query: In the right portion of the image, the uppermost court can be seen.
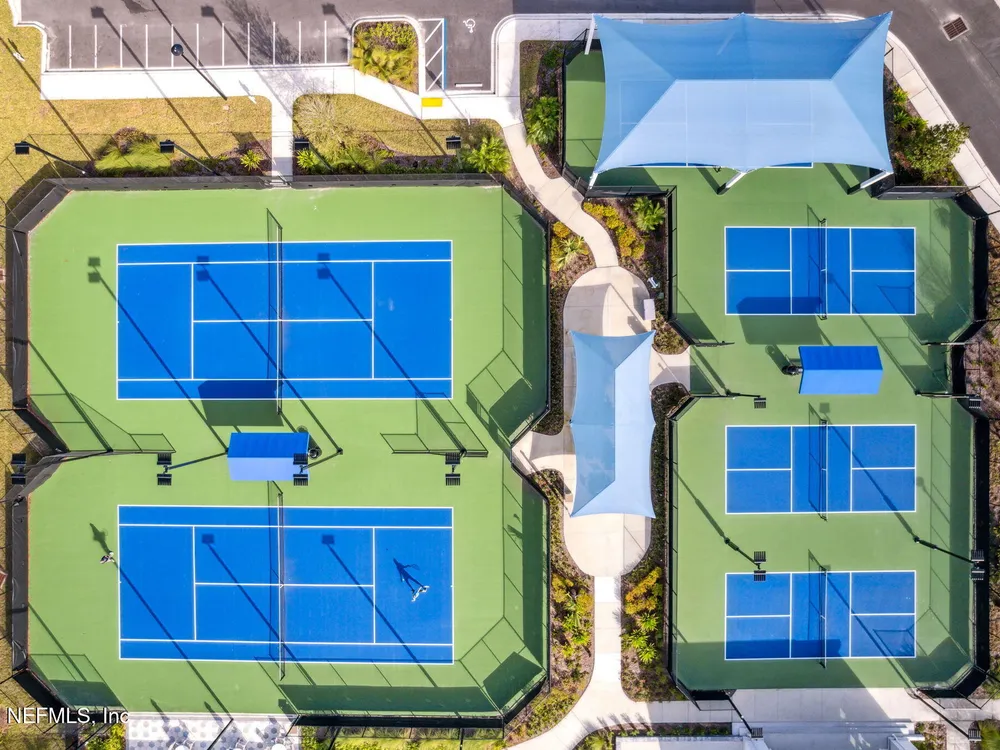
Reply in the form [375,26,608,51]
[562,48,869,197]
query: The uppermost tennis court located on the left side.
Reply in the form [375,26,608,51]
[27,187,549,450]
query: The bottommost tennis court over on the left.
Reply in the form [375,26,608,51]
[26,450,548,714]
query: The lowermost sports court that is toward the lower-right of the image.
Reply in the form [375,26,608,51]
[676,541,974,689]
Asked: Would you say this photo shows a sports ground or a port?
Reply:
sports ground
